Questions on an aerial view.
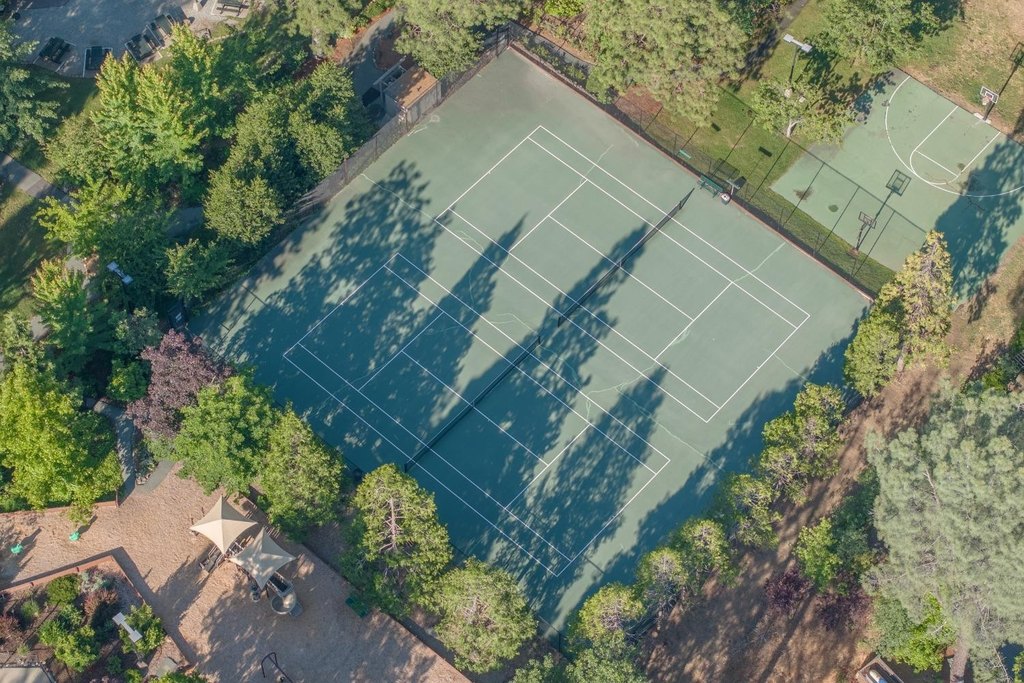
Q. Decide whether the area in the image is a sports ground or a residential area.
sports ground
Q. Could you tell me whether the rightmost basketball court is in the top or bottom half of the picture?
top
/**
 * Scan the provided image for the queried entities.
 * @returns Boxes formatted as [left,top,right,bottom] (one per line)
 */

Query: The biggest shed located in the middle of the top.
[367,48,439,128]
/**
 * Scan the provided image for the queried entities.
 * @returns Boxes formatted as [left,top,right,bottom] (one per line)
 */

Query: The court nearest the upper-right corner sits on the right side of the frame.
[773,76,1024,308]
